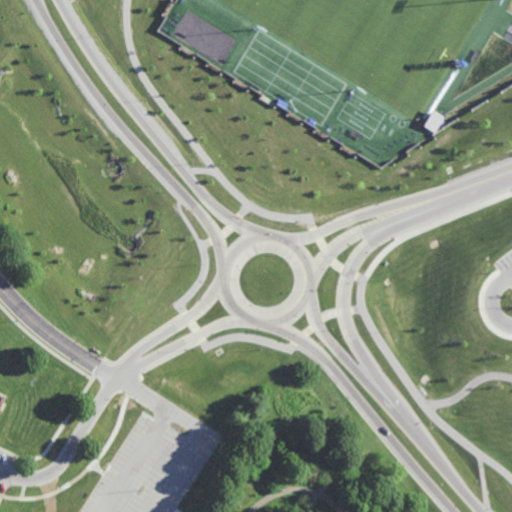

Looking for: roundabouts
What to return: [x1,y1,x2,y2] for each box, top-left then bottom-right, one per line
[218,231,310,328]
